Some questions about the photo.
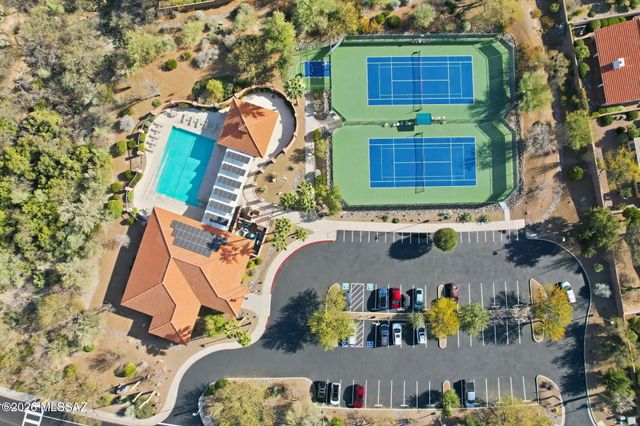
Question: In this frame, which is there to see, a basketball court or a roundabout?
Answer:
basketball court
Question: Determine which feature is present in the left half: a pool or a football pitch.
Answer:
pool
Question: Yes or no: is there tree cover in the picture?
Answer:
Yes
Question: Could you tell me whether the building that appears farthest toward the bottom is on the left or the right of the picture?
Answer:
left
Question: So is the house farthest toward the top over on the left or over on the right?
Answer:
right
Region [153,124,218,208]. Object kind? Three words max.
swimming pool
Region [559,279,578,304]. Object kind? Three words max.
car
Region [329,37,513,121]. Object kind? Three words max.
tennis court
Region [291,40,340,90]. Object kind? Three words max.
basketball court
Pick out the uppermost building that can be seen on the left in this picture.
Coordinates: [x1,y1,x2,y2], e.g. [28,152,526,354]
[218,98,279,158]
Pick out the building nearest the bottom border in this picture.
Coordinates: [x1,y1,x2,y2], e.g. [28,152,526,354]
[118,206,254,346]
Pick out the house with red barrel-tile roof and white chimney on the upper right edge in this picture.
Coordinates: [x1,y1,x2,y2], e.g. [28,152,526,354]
[592,11,640,105]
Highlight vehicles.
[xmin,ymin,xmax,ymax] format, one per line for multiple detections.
[342,288,351,310]
[414,289,424,310]
[391,287,401,308]
[417,324,427,345]
[449,282,460,304]
[346,325,354,345]
[330,382,341,404]
[354,384,364,407]
[379,287,389,309]
[465,380,476,405]
[380,323,390,345]
[392,322,402,345]
[316,380,326,402]
[559,279,578,304]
